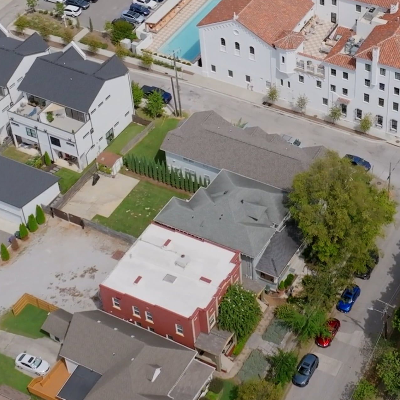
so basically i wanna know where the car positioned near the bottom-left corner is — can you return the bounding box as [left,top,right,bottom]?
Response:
[11,353,50,378]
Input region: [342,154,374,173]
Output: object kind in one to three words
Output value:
car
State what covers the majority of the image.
buildings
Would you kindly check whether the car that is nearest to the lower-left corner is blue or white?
white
